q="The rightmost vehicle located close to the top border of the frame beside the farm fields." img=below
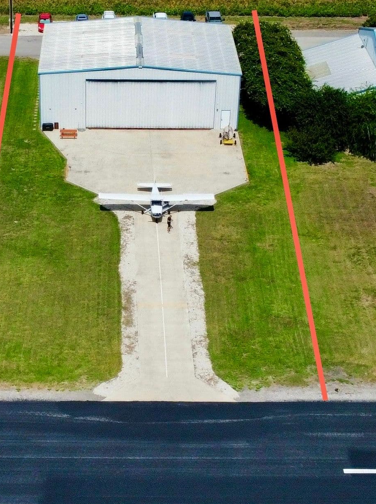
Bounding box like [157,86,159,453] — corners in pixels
[205,10,224,23]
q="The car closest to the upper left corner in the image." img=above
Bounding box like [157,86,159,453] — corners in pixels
[36,14,52,34]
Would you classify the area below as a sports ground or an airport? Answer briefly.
airport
